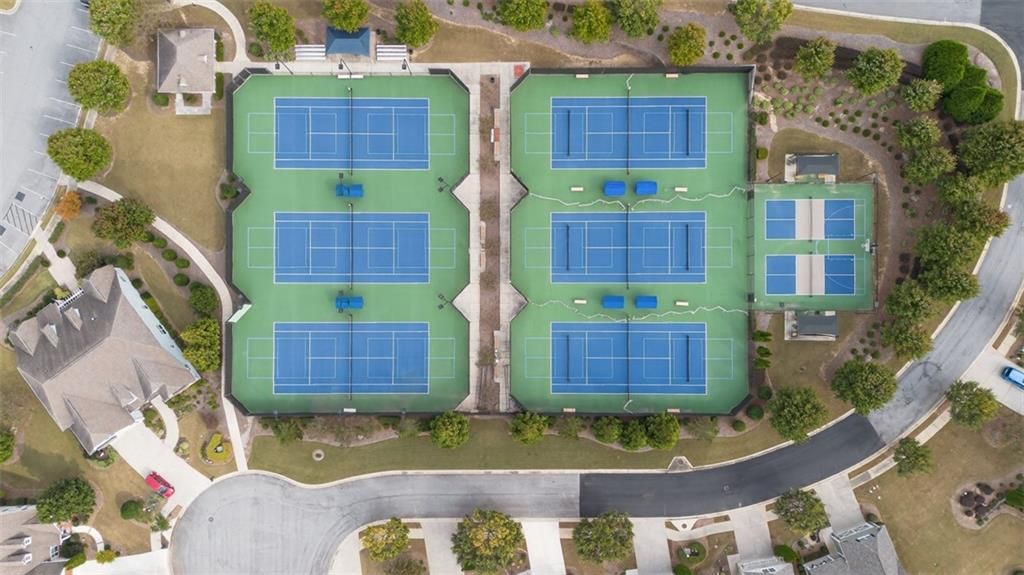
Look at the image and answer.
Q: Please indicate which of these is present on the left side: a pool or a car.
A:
car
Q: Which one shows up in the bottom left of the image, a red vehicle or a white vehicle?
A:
red vehicle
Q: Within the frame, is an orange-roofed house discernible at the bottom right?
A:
No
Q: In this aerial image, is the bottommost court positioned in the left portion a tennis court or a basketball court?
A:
tennis court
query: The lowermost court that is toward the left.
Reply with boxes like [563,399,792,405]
[231,301,468,412]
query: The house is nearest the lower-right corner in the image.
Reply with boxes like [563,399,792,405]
[805,518,908,575]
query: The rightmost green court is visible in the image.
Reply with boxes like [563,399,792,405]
[754,184,872,308]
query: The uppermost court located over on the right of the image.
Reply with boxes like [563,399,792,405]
[511,73,748,191]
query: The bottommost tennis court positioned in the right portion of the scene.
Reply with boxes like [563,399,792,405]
[511,301,748,412]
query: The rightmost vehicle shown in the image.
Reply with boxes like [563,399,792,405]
[997,365,1024,387]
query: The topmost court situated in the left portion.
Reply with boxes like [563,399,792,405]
[233,75,468,191]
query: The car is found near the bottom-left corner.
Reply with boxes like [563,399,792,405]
[143,471,176,498]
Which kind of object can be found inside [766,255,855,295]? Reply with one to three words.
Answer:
sports court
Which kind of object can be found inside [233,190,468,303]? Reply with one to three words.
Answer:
tennis court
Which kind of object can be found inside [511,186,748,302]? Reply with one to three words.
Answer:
tennis court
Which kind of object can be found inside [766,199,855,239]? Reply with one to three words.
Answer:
sports court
